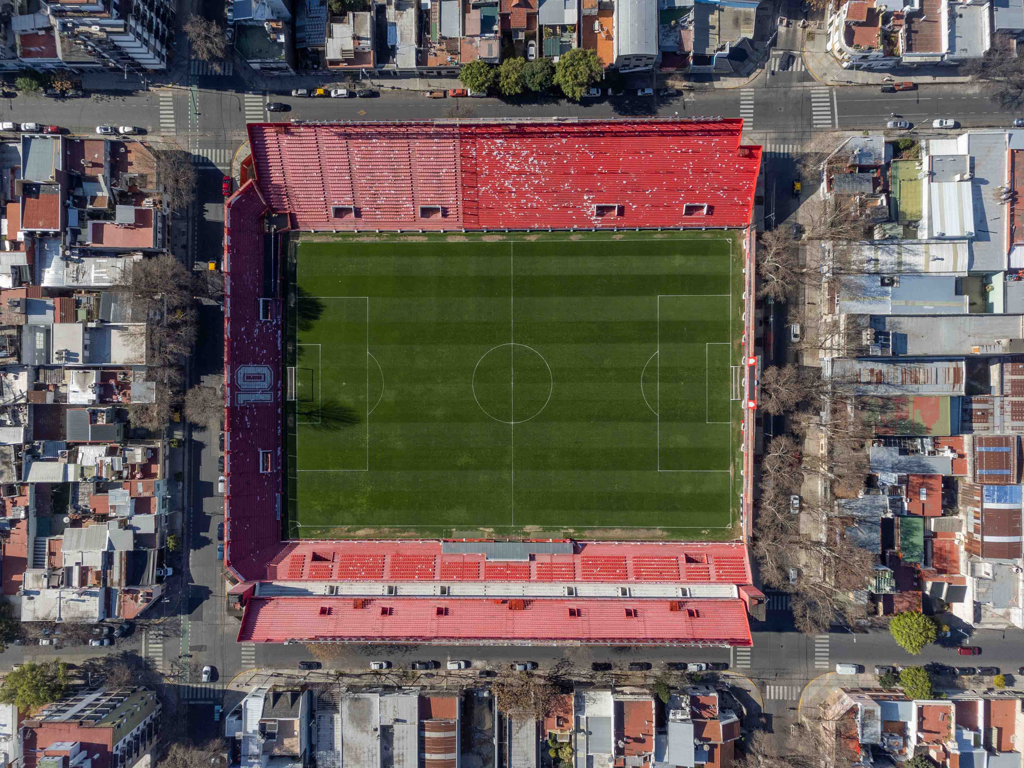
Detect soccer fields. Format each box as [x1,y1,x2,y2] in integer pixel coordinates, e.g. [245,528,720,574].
[281,232,746,542]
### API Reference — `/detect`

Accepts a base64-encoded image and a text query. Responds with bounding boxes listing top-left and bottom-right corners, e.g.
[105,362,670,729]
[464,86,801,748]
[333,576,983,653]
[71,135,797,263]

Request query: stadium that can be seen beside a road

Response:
[222,117,766,645]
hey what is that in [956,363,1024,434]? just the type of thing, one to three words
building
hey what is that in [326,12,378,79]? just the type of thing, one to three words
house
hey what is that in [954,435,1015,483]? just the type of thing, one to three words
building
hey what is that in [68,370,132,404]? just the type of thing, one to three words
house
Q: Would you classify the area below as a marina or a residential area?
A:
residential area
